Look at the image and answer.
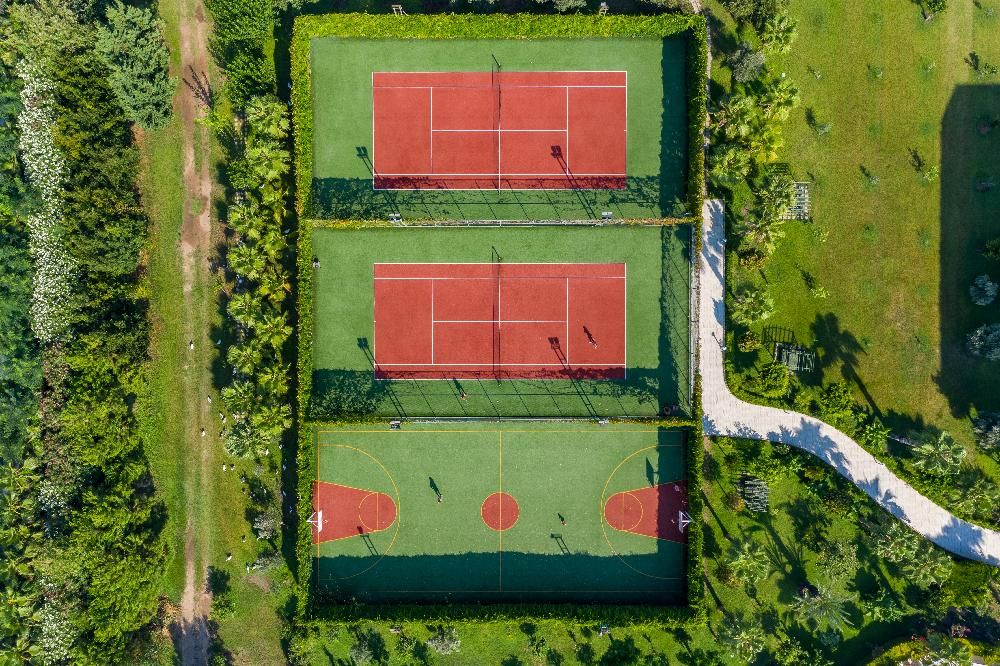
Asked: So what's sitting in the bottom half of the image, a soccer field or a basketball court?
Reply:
basketball court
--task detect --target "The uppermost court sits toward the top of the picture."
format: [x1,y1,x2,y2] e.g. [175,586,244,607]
[311,38,689,226]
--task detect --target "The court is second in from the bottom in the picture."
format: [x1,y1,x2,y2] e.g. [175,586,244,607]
[311,226,692,419]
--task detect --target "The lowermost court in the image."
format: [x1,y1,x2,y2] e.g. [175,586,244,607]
[311,419,689,606]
